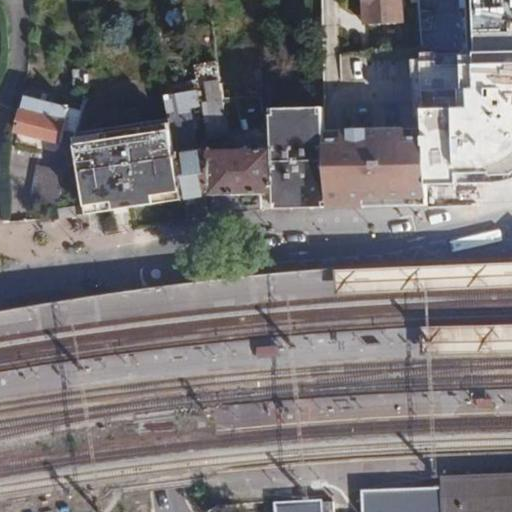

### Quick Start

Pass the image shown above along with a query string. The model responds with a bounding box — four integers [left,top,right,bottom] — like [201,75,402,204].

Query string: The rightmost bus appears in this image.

[448,228,506,252]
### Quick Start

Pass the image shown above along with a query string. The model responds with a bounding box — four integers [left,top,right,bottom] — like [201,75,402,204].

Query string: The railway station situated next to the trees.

[0,262,512,506]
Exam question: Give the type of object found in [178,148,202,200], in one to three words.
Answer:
house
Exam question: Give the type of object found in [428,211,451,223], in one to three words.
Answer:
vehicle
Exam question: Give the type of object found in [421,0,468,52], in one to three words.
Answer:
building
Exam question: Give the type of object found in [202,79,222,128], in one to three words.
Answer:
shed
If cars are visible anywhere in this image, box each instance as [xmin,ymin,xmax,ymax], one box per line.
[55,504,77,512]
[352,60,363,80]
[390,220,412,230]
[263,236,284,246]
[284,232,306,244]
[159,488,170,510]
[428,211,451,223]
